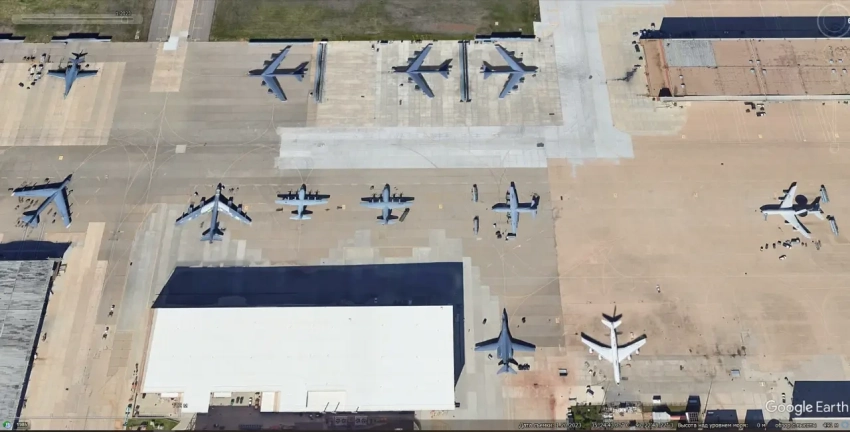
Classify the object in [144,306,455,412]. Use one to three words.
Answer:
hangar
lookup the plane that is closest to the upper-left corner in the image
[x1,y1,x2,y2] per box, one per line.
[48,51,100,100]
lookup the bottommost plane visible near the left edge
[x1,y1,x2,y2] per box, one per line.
[12,175,76,230]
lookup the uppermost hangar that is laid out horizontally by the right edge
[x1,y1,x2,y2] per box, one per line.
[657,38,850,101]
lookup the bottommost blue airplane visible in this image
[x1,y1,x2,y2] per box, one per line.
[475,309,537,372]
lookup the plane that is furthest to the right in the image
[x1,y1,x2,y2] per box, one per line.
[760,189,828,243]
